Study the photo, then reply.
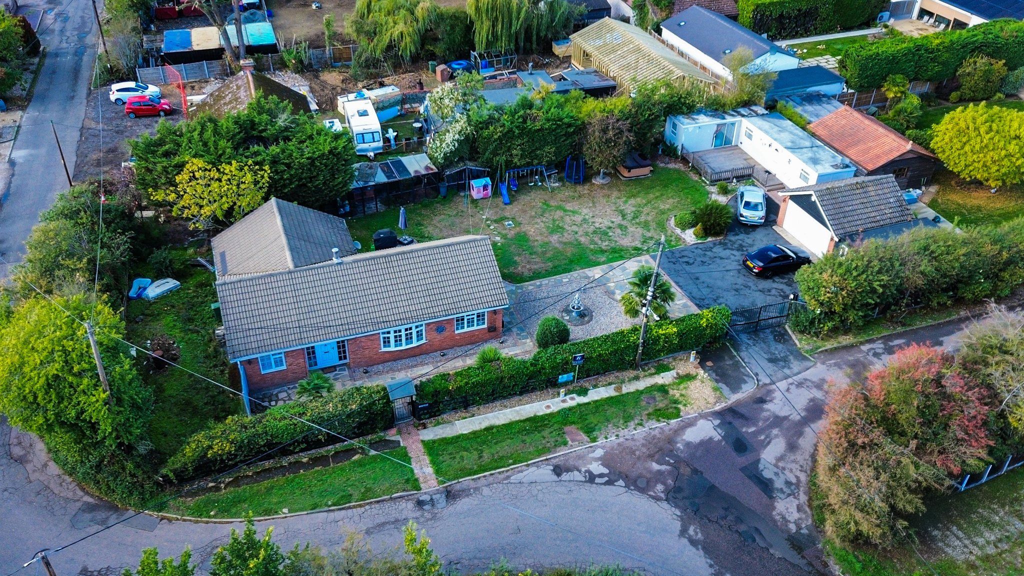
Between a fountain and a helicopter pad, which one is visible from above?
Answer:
fountain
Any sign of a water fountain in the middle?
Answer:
Yes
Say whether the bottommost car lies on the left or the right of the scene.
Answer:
right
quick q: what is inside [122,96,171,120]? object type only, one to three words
car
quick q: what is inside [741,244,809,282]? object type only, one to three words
car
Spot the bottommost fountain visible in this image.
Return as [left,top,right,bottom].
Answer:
[562,286,596,325]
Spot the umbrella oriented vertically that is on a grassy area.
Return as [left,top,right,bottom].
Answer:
[398,205,412,245]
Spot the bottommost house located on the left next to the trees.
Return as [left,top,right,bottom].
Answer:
[197,194,510,391]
